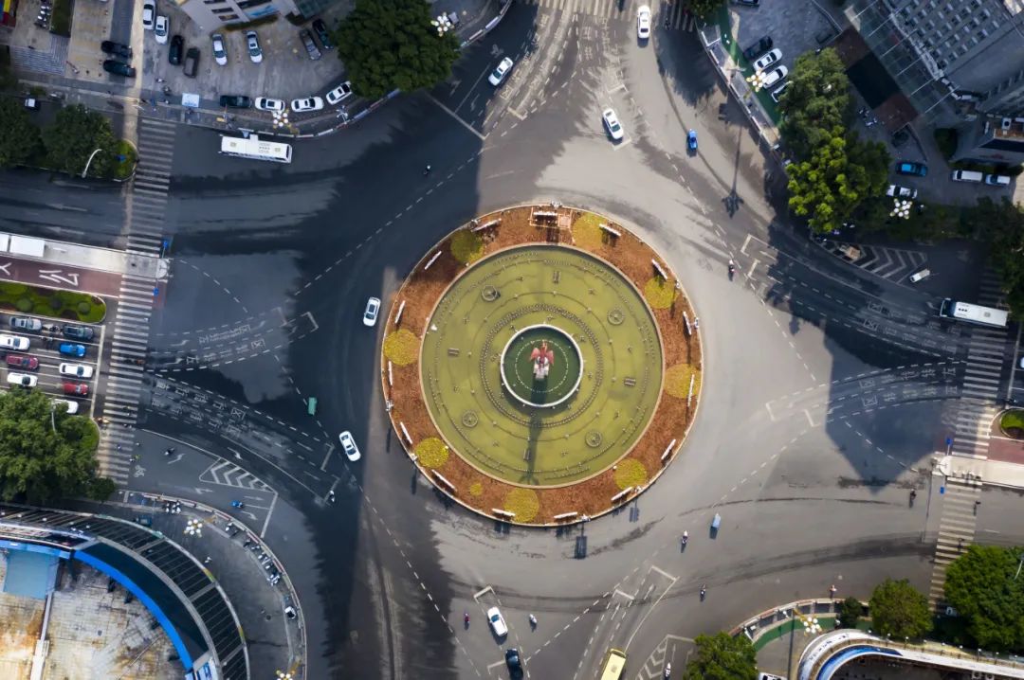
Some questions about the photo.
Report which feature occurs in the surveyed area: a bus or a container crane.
bus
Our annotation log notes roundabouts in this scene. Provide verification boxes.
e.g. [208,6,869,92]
[381,205,703,527]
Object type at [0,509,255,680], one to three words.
building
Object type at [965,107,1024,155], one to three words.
building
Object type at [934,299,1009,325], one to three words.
bus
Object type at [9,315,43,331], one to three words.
car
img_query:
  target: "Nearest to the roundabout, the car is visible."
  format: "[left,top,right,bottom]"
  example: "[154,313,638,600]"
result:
[364,296,380,327]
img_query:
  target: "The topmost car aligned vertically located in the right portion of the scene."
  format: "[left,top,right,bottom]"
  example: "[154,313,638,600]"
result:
[636,5,652,39]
